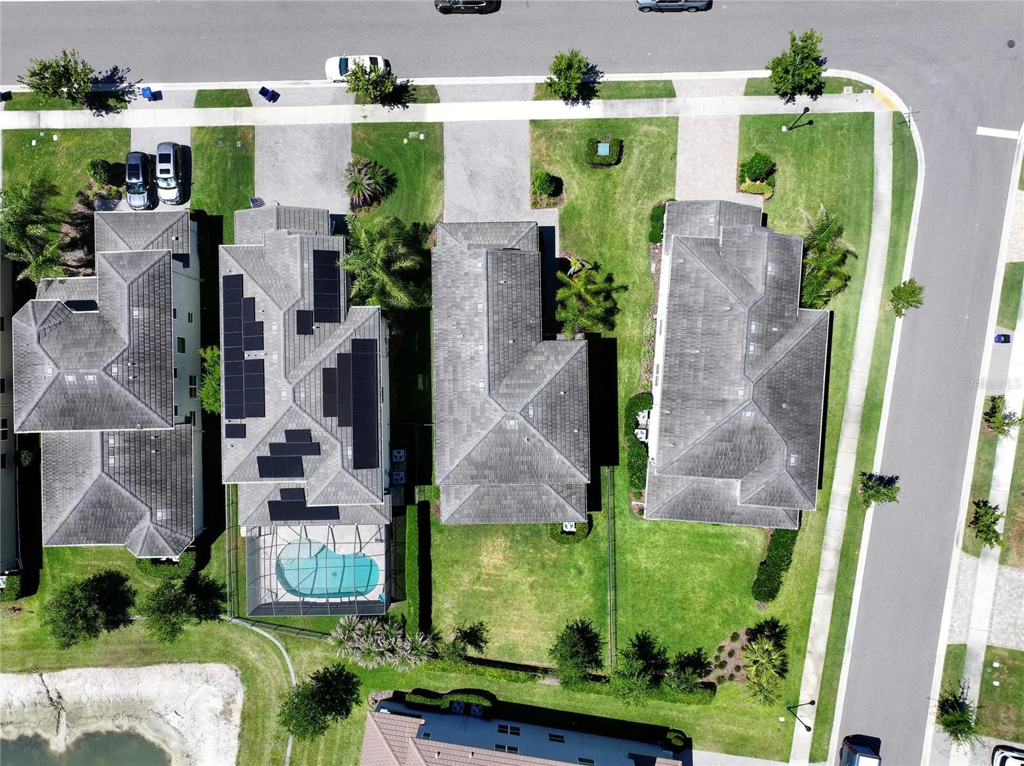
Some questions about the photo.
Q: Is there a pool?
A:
Yes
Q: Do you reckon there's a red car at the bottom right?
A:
No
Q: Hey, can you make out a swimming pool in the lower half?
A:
Yes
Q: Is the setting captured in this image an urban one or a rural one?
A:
urban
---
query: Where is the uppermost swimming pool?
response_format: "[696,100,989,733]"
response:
[276,538,379,598]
